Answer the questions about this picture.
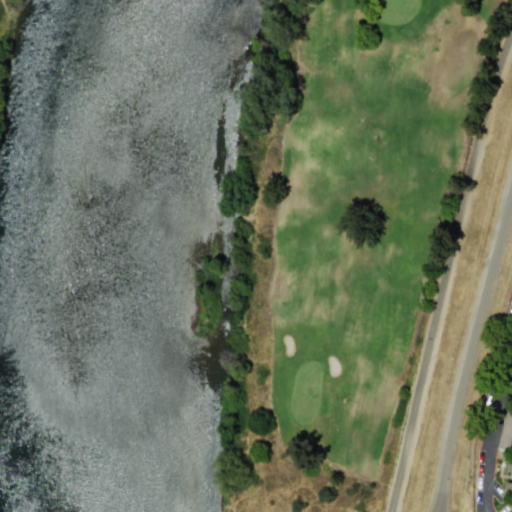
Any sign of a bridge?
No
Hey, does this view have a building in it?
No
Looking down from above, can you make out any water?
Yes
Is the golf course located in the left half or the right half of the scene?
right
